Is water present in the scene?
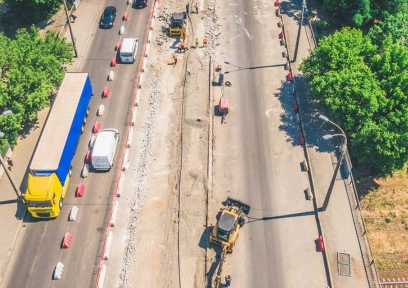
No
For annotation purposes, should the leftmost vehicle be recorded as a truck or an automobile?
truck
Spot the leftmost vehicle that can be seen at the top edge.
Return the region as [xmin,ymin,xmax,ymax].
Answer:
[99,7,116,27]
